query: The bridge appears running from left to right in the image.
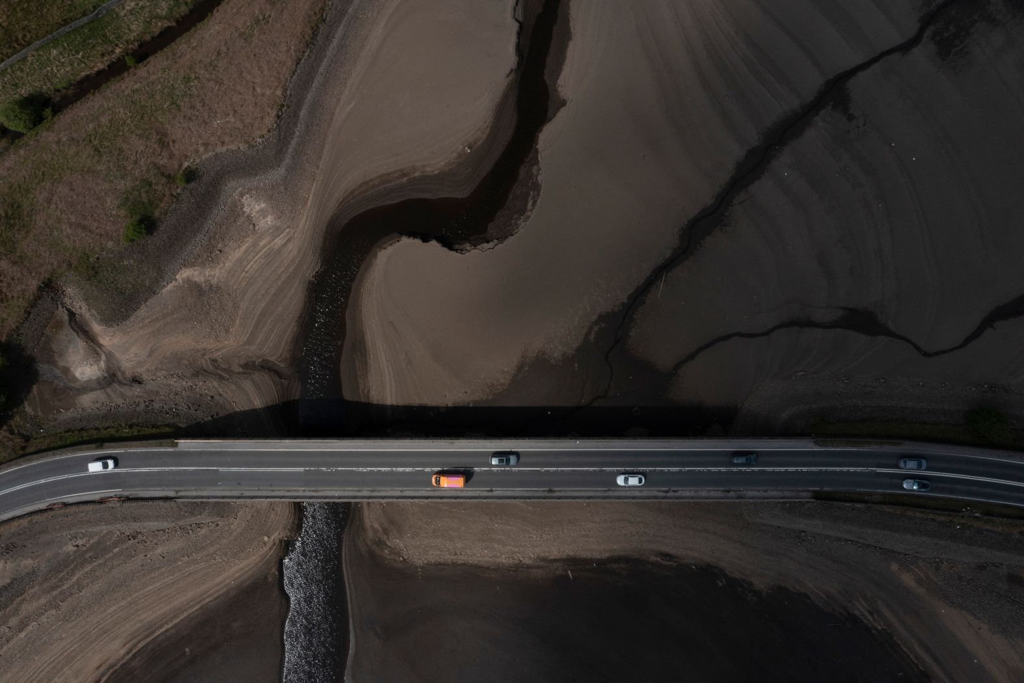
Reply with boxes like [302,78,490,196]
[168,434,814,503]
